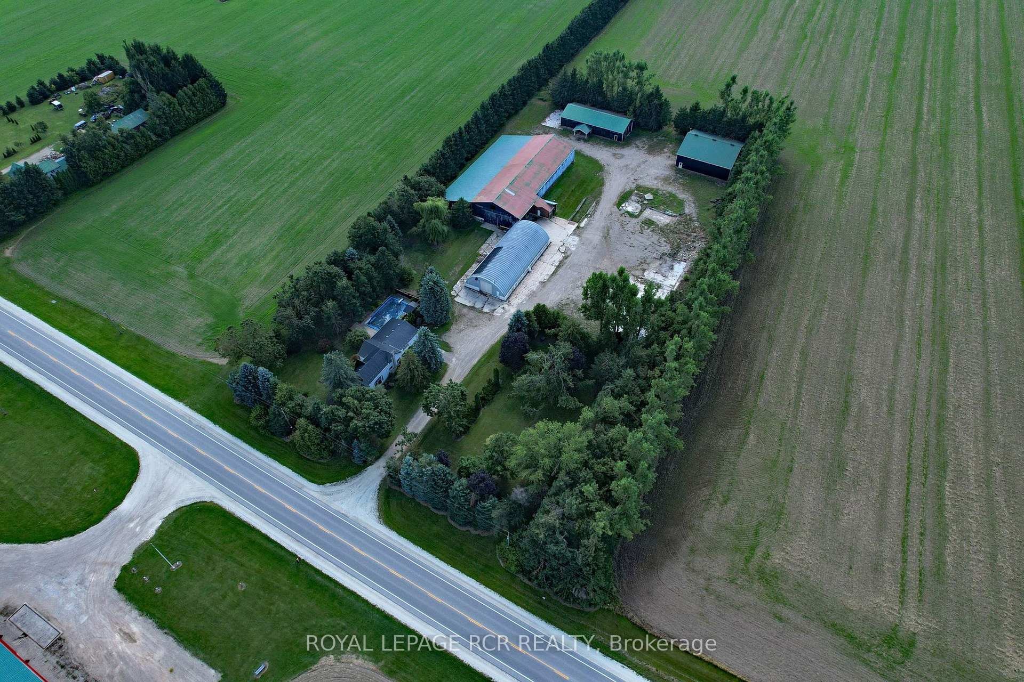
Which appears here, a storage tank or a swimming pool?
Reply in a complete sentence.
I can see a swimming pool in this picture.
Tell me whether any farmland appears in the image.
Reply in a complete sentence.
Yes, there's farmland in this view.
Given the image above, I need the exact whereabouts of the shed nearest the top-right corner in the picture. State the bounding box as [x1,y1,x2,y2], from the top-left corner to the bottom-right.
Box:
[675,128,748,179]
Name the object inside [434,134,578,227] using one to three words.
barn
